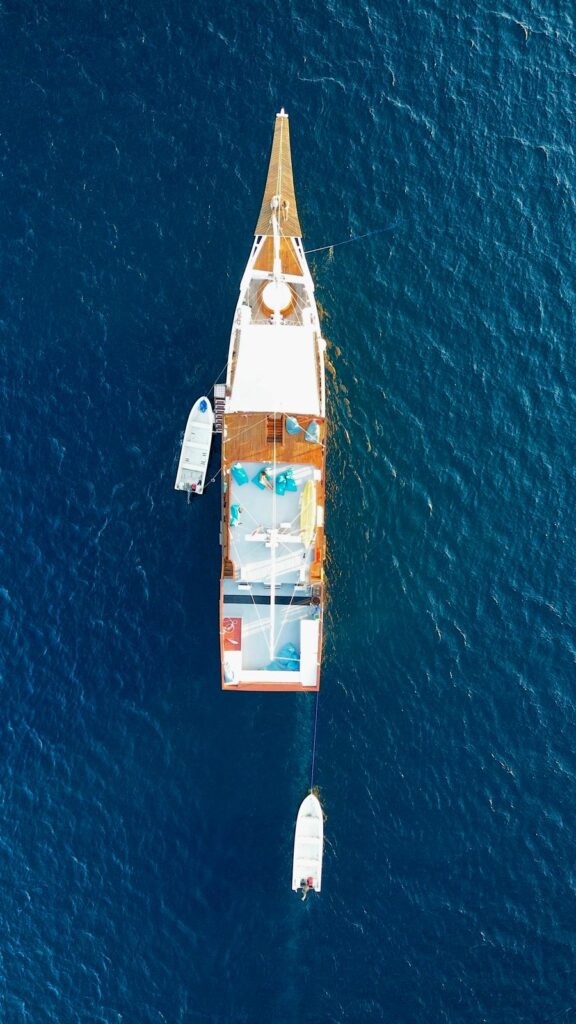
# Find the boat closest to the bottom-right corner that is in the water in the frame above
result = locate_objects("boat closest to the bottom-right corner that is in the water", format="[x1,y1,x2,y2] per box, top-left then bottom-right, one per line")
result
[292,794,323,899]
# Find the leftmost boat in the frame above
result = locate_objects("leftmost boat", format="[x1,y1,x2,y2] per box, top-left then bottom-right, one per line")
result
[175,396,211,501]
